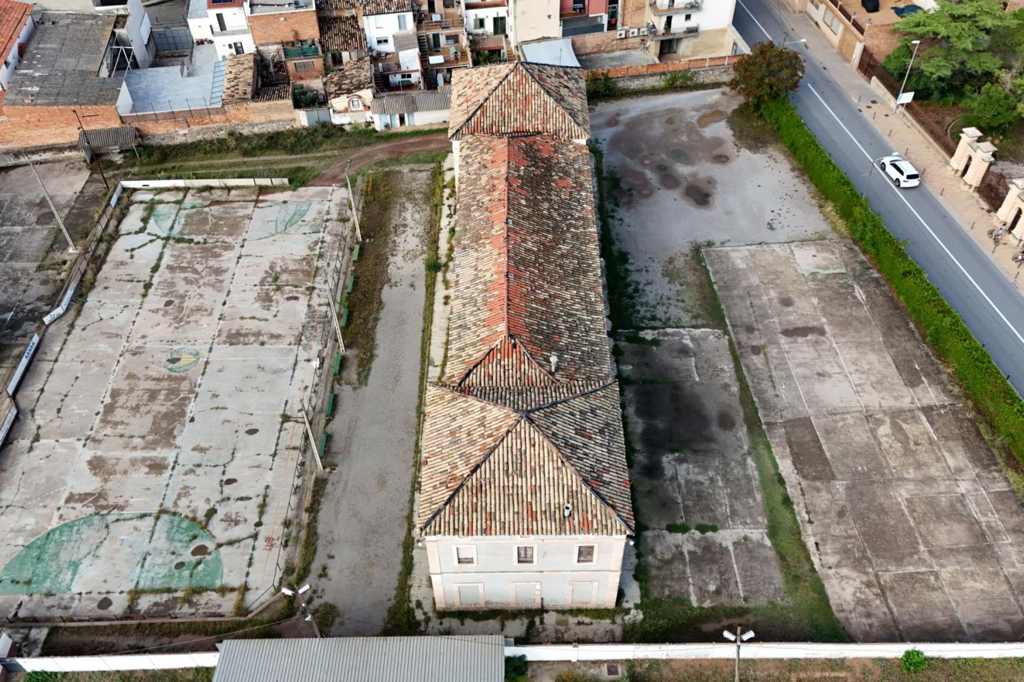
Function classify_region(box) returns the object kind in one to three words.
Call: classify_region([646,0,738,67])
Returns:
house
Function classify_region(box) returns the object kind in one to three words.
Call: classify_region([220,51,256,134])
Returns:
shed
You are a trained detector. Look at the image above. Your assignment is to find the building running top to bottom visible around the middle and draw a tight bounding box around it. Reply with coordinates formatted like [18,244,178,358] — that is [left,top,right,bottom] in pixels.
[415,62,637,611]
